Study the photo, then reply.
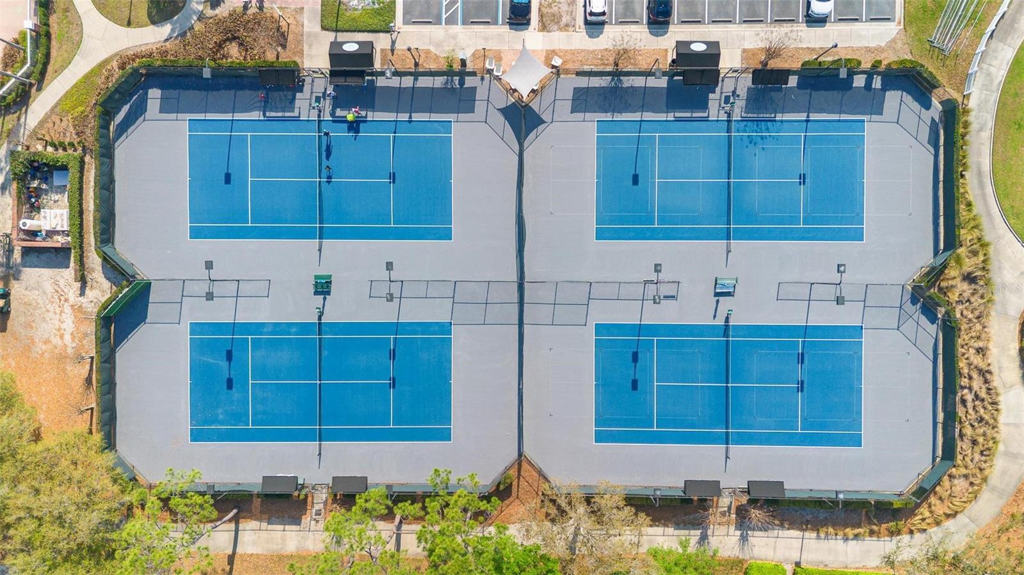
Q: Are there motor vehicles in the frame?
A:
Yes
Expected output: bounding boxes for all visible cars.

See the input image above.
[507,0,533,20]
[586,0,607,21]
[651,0,673,19]
[810,0,835,17]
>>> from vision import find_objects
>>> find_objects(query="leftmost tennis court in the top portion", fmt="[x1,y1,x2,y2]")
[188,118,453,241]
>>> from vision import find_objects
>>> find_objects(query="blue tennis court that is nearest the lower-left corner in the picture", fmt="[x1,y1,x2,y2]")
[189,321,452,443]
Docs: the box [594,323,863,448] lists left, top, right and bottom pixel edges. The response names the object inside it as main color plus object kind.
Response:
blue tennis court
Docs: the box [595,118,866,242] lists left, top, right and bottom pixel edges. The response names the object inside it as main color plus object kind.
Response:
blue tennis court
